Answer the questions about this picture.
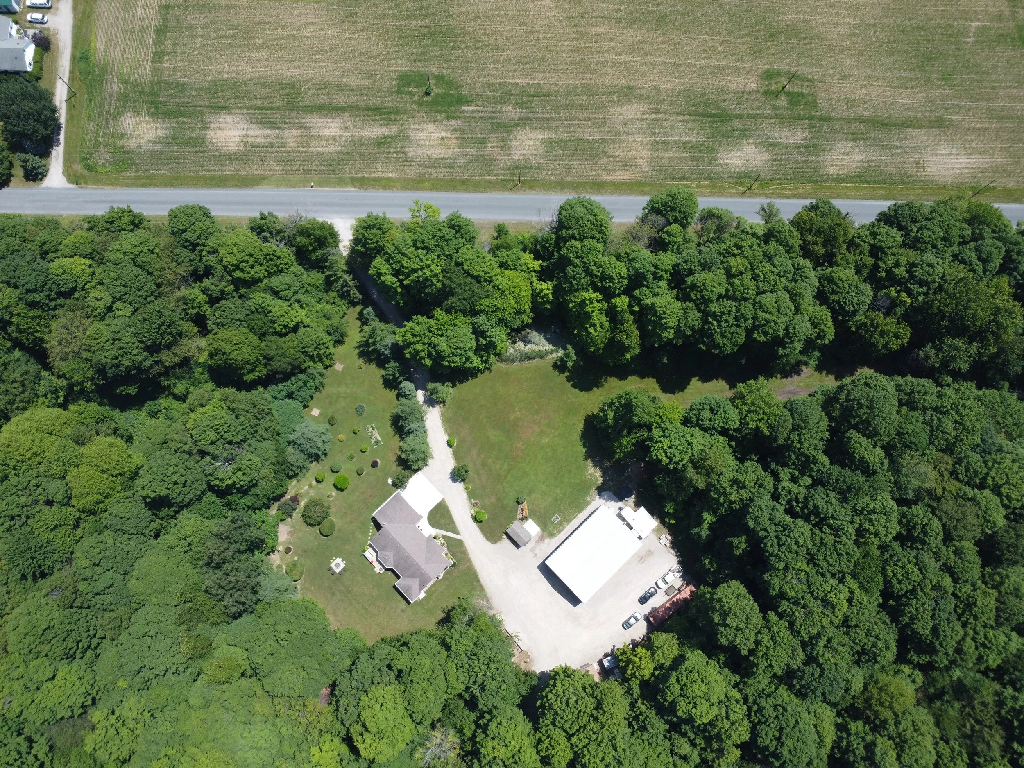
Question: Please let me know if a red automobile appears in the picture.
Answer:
No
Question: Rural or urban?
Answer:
rural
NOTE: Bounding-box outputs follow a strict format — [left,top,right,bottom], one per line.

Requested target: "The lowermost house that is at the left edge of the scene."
[0,16,37,79]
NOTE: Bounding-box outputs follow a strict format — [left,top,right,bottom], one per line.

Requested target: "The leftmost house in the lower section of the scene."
[370,491,454,603]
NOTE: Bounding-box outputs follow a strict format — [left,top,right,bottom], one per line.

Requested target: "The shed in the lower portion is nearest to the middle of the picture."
[507,521,532,546]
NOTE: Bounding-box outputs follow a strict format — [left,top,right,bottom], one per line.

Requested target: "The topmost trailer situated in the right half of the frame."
[618,505,658,539]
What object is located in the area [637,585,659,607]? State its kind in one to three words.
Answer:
car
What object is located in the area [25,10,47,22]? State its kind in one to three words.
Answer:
vehicle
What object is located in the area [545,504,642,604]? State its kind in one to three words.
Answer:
barn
